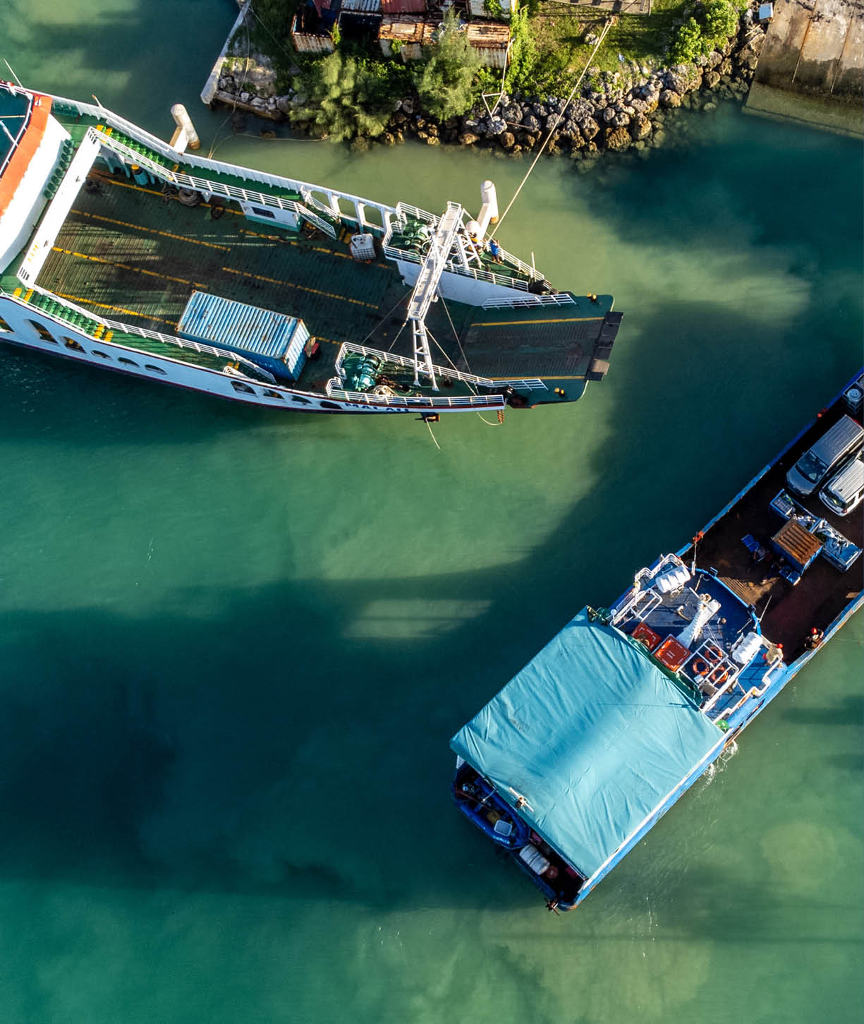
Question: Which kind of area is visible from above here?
port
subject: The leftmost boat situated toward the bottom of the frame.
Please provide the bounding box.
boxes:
[450,766,524,847]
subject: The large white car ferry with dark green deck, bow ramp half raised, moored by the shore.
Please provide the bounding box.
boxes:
[0,40,622,449]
